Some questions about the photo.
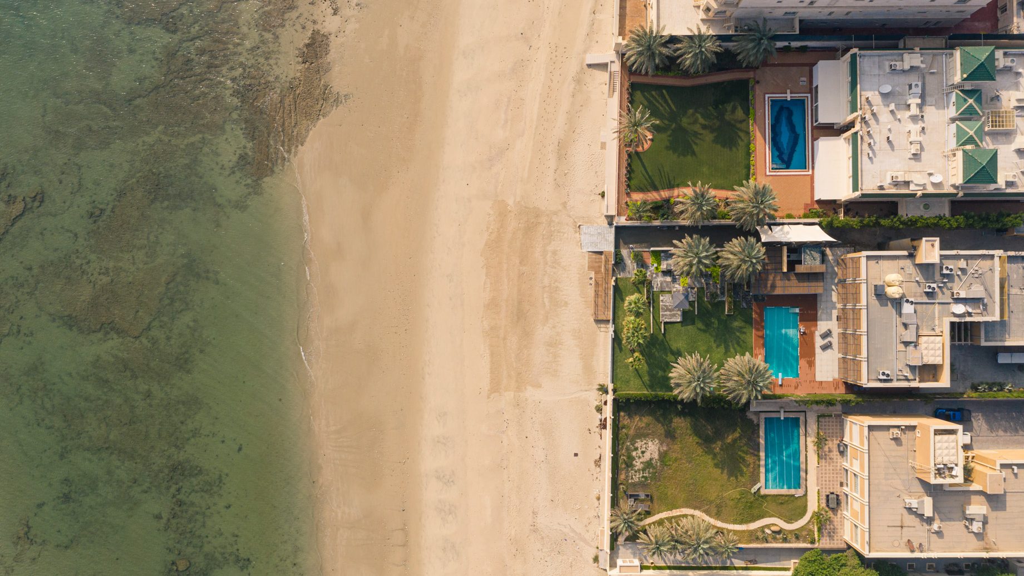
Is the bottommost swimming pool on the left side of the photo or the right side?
right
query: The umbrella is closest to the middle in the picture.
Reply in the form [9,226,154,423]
[673,293,688,309]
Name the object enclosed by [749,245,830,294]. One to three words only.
building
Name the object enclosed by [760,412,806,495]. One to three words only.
swimming pool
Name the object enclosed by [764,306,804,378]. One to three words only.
swimming pool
